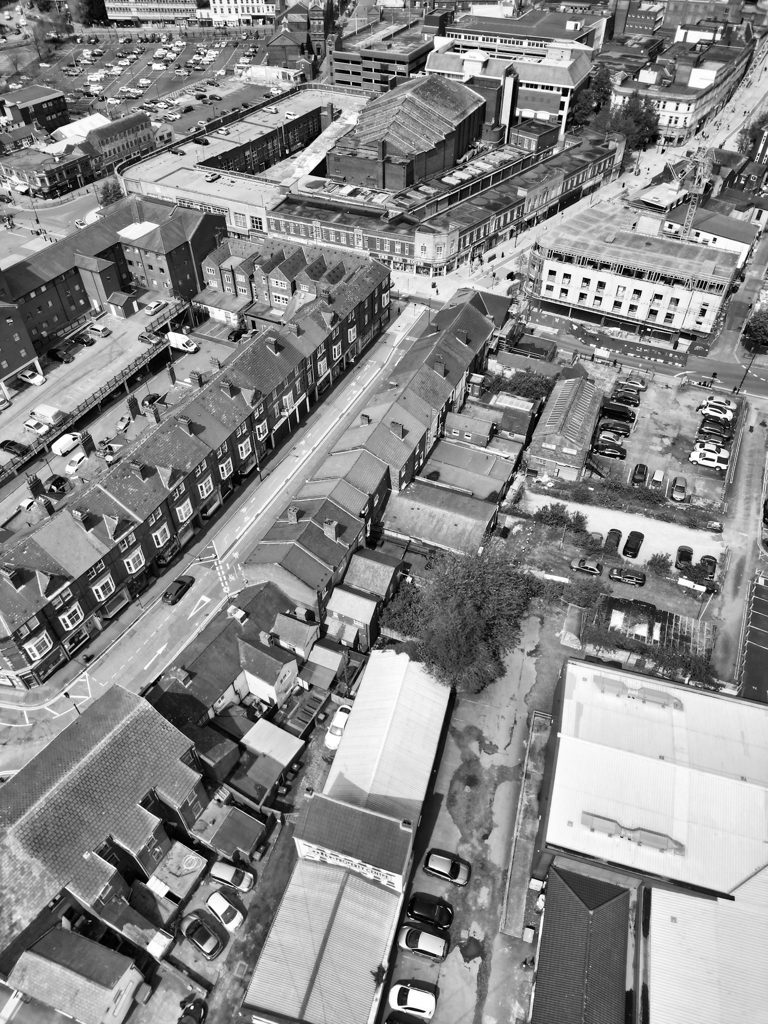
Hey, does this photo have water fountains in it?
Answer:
No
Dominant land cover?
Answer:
buildings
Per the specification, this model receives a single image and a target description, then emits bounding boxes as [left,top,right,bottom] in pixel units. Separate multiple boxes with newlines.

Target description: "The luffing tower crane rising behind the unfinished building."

[674,80,768,240]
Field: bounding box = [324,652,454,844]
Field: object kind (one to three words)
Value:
shed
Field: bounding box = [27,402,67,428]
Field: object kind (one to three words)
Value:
vehicle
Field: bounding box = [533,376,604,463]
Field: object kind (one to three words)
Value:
building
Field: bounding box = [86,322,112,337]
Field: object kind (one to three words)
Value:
car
